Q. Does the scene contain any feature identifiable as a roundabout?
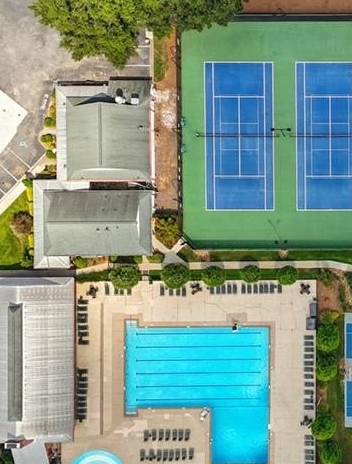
No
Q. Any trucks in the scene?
No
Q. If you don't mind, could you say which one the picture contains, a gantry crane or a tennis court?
tennis court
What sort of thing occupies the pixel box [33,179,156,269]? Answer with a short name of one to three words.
building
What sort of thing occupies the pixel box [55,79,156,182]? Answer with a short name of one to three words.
building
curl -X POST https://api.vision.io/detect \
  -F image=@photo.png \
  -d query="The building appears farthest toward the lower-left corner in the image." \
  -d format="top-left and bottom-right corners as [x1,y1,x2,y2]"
[0,277,79,464]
